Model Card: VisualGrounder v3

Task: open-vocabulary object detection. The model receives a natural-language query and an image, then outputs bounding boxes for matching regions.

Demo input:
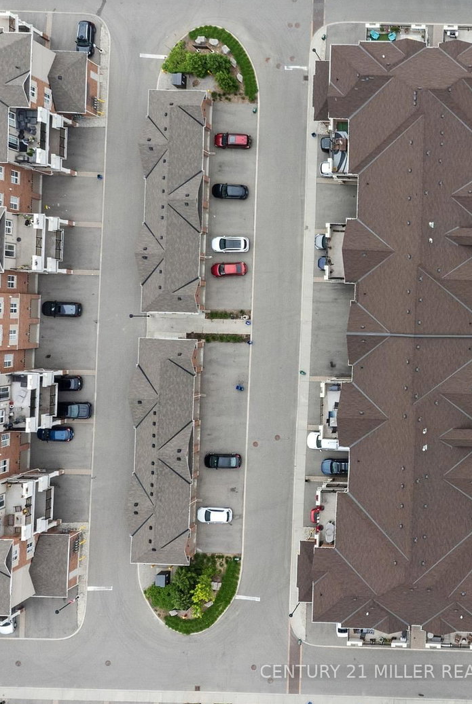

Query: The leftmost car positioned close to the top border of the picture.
[74,20,97,59]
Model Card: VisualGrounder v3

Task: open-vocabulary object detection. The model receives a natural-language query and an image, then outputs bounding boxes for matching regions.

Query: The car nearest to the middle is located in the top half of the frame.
[212,261,247,278]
